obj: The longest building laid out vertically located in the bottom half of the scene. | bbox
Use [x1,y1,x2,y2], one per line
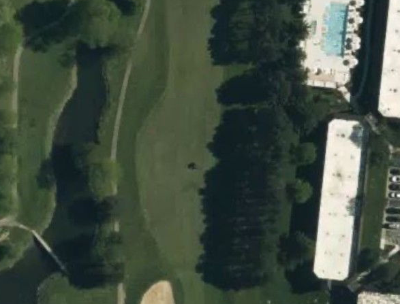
[307,113,366,285]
